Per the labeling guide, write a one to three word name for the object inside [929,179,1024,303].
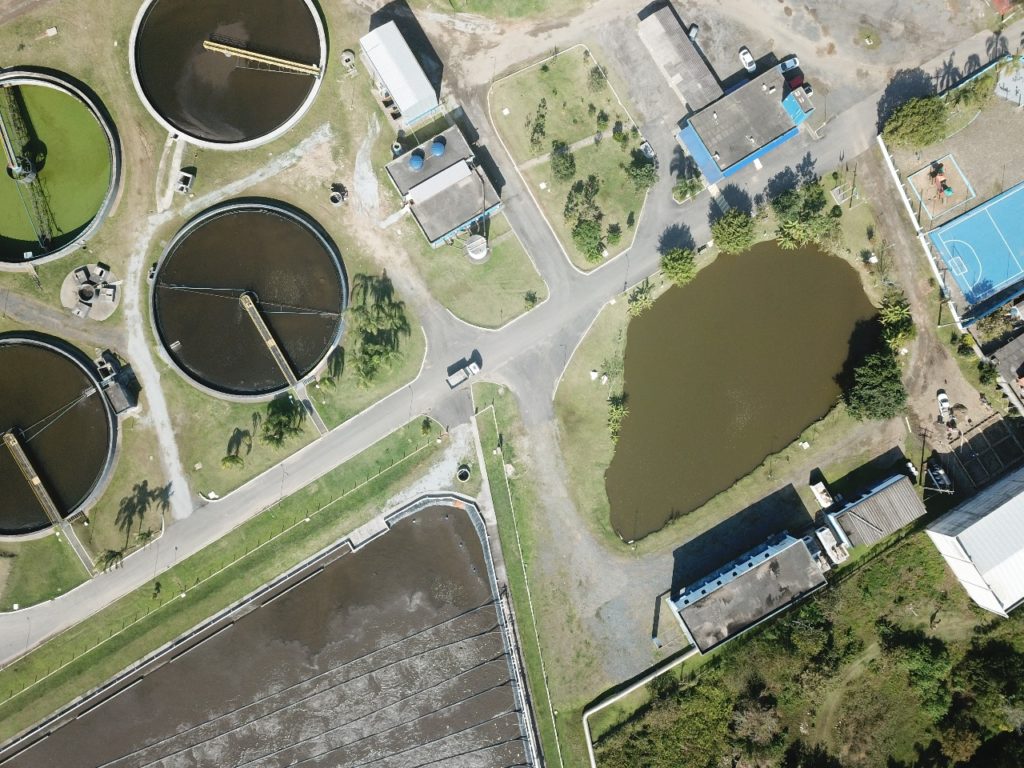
sports court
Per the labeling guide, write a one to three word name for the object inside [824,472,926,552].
building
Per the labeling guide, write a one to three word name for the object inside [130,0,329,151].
storage tank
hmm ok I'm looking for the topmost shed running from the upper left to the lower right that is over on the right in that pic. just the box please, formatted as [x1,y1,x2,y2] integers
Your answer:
[636,6,724,118]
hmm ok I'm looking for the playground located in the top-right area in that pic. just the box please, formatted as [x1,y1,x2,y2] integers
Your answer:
[907,154,977,219]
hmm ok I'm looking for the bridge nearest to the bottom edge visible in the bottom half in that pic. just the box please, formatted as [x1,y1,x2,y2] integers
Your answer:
[0,432,65,527]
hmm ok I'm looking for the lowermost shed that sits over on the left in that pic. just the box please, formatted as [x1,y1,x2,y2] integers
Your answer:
[106,382,138,419]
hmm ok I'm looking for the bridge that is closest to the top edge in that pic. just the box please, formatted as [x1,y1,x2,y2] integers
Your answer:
[203,40,321,75]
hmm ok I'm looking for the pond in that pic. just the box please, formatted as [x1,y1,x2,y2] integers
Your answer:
[0,489,542,768]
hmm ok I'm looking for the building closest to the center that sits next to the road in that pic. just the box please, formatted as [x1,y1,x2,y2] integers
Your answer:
[386,125,501,248]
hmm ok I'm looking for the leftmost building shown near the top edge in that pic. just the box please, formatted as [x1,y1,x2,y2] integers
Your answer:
[359,21,439,121]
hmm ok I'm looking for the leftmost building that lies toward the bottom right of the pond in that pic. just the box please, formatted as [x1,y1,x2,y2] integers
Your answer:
[669,531,827,653]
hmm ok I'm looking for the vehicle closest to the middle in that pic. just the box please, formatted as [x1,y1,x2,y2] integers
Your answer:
[448,360,484,388]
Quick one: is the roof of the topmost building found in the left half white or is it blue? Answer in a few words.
white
